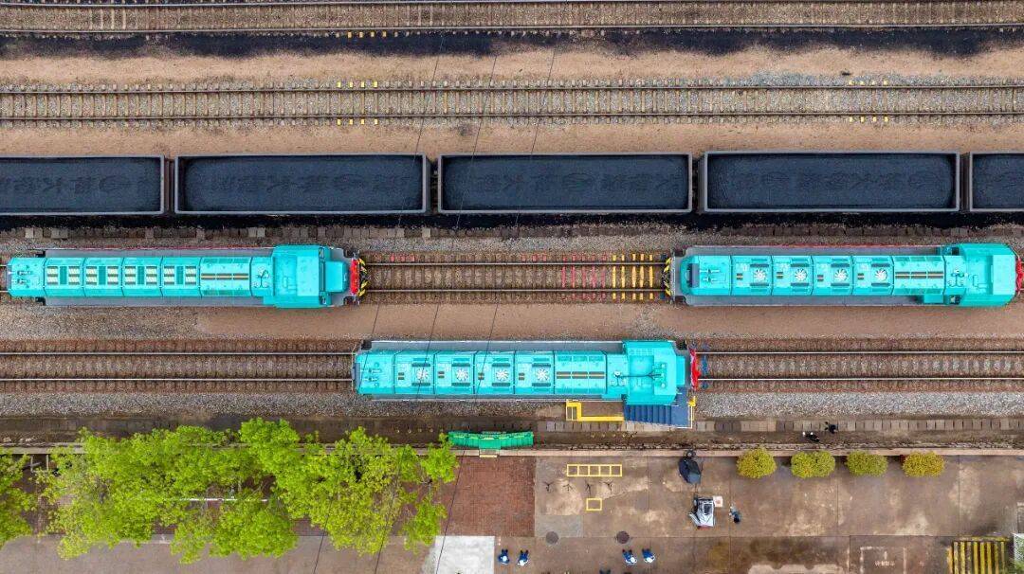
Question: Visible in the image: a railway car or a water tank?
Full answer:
The one in the frame is a railway car.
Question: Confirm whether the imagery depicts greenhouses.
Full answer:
No, there appears to be no greenhouse in this shot.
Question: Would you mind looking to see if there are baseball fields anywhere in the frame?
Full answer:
No, there appears to be no baseball field in this shot.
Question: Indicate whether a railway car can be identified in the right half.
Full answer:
Yes, there is a railway car in the right half.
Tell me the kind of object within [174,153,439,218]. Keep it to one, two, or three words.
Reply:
rail car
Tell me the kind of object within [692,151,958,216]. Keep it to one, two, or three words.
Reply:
rail car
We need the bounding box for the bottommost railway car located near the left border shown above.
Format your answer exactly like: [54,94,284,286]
[8,246,370,308]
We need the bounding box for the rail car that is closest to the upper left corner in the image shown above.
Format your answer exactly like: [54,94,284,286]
[0,154,184,219]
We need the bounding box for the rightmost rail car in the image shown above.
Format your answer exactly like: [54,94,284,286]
[944,150,1024,215]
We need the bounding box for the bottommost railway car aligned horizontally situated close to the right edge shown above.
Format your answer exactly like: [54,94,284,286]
[659,245,1018,307]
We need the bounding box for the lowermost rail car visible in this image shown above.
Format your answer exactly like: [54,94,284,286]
[347,339,694,403]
